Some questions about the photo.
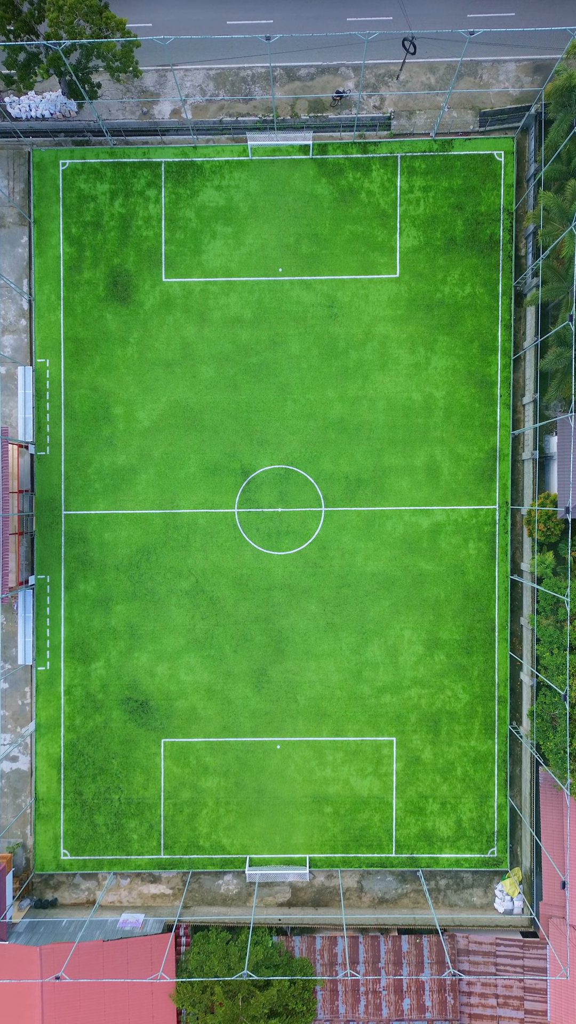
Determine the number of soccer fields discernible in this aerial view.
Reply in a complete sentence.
The count comes to 1 soccer field.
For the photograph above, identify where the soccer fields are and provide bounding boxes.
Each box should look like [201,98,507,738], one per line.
[32,136,515,873]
